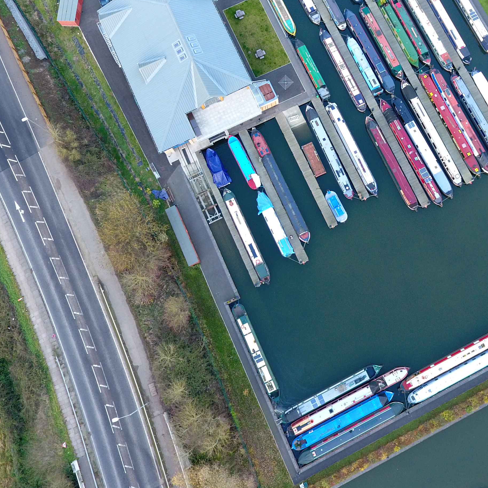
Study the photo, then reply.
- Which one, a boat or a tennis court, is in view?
boat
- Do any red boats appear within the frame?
Yes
